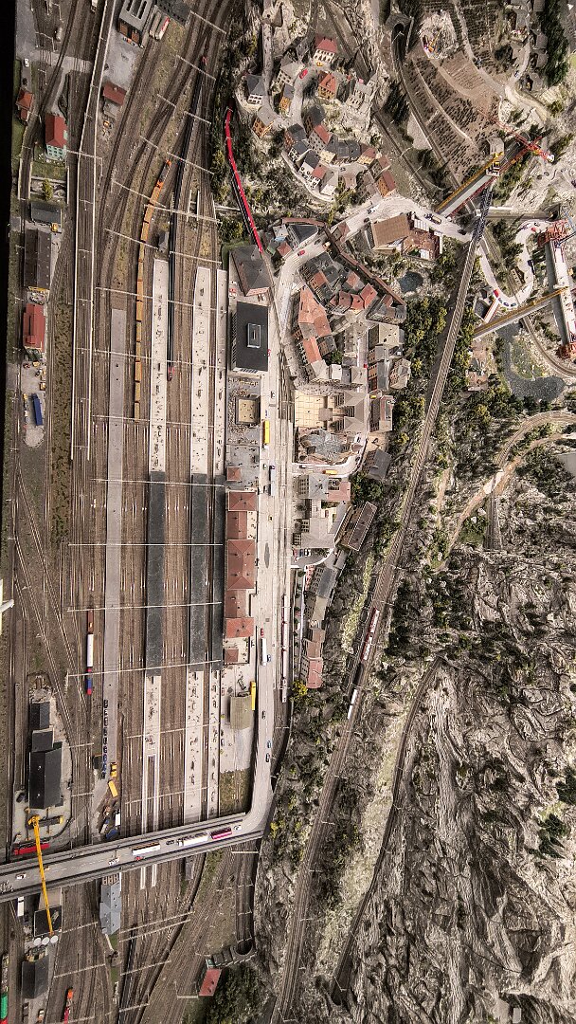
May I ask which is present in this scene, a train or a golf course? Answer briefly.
train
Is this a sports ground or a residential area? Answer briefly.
residential area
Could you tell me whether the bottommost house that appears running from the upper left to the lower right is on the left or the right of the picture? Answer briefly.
right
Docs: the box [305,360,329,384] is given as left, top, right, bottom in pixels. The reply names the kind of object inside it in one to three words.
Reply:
house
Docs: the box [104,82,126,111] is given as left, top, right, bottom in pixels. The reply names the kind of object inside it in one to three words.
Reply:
building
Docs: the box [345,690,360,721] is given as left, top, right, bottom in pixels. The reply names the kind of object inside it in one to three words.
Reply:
train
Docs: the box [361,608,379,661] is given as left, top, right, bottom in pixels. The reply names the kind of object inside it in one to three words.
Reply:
train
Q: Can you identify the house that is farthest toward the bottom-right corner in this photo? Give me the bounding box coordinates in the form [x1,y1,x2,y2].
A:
[501,994,522,1023]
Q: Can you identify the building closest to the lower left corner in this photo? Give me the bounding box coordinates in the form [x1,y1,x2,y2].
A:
[22,948,48,998]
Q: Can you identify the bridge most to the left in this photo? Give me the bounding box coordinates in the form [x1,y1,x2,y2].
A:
[0,622,277,902]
